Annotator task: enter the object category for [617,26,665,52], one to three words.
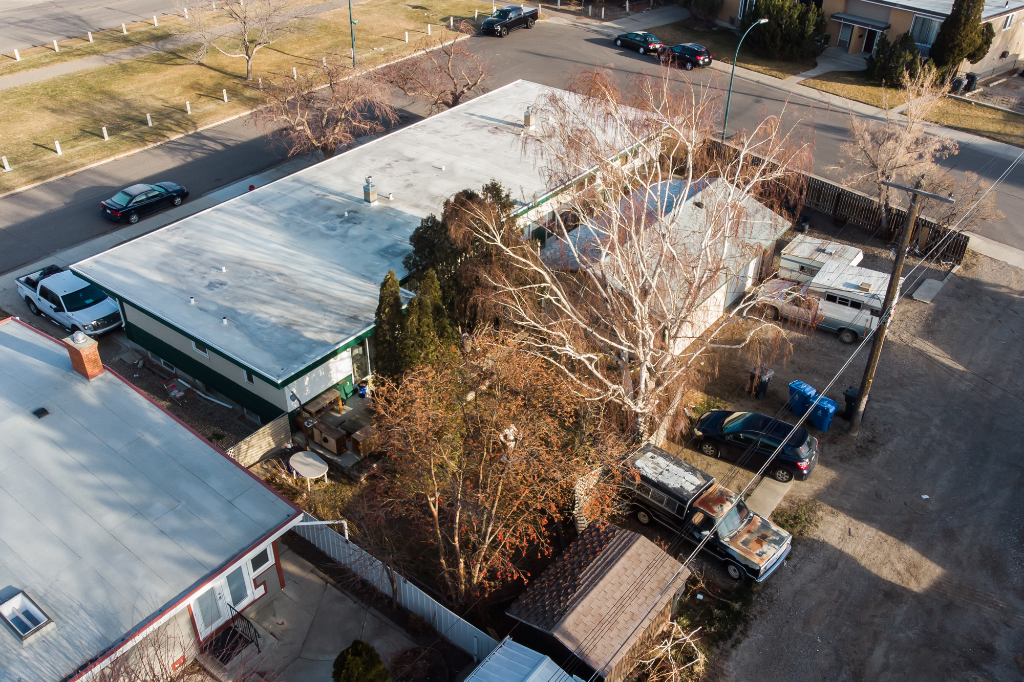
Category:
car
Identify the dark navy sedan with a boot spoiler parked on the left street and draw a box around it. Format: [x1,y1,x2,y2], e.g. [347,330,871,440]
[93,178,191,222]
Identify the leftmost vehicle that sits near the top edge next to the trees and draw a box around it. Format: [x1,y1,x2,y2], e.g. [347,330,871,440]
[477,3,537,37]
